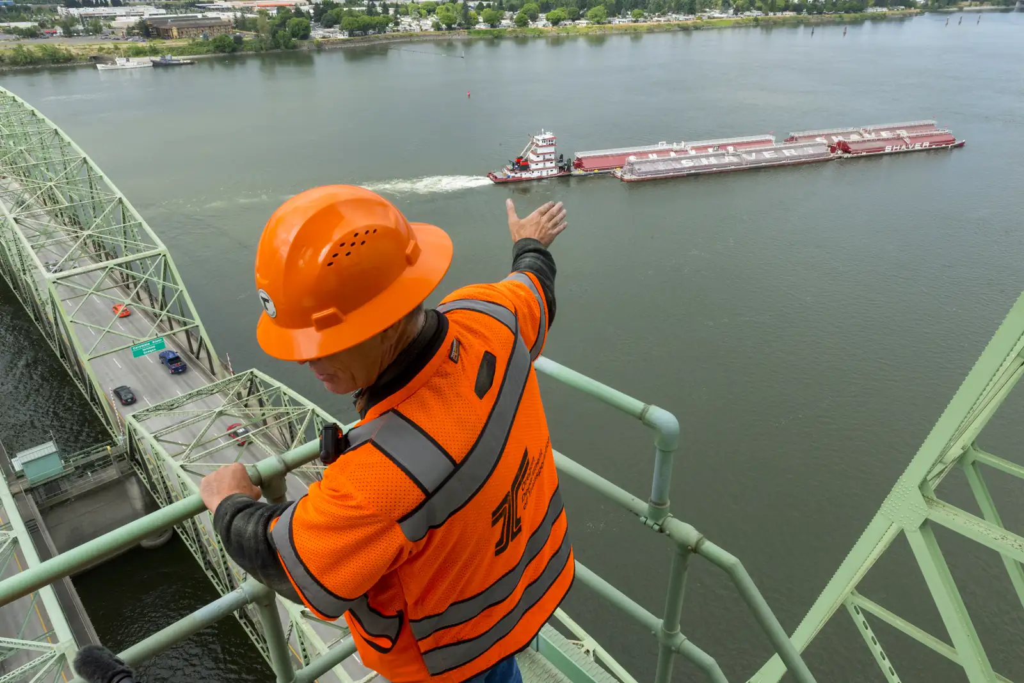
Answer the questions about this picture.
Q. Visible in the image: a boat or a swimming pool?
boat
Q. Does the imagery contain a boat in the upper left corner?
Yes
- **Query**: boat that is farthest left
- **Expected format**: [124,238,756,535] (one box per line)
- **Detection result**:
[95,50,153,69]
